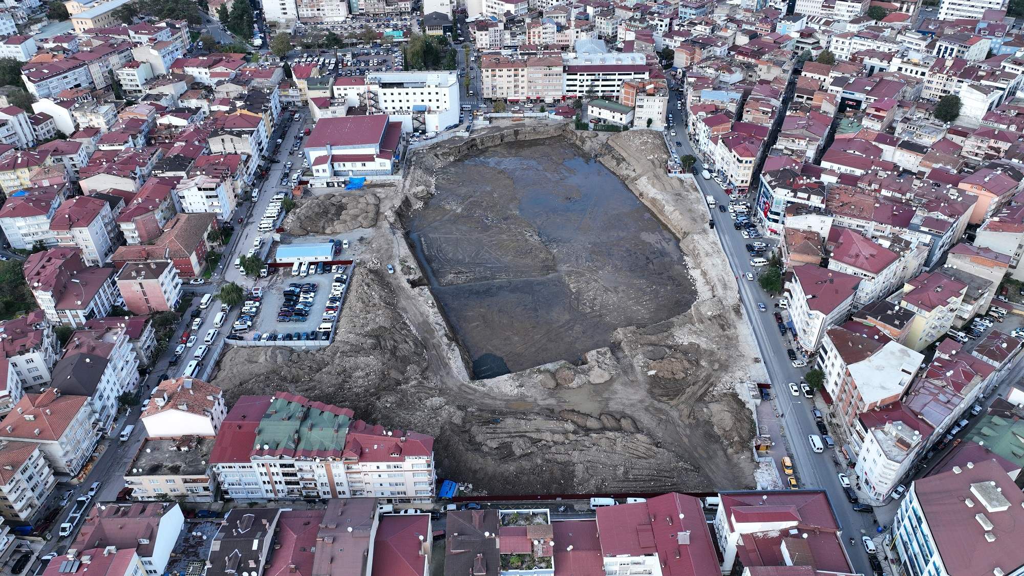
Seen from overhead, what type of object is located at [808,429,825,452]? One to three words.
vehicle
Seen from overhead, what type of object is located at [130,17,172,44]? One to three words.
house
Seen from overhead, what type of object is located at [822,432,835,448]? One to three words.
vehicle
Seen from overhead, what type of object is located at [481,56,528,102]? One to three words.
building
